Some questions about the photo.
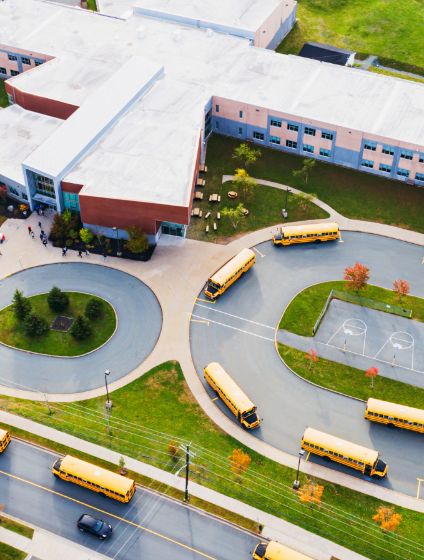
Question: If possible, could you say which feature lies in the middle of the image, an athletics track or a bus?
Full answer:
You can see a bus in the middle of the image.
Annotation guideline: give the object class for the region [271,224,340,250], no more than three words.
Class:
bus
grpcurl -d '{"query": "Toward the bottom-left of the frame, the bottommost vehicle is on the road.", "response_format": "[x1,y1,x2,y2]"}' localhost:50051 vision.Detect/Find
[76,514,111,539]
